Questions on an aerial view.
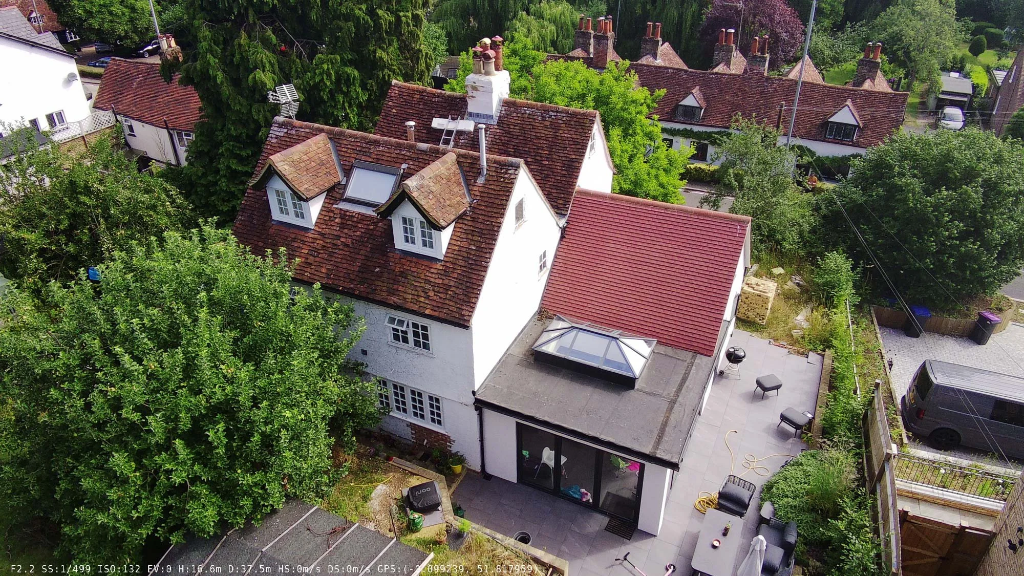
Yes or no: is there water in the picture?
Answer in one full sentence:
No, there's no water in this view.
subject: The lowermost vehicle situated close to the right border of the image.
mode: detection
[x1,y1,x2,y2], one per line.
[900,355,1024,463]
